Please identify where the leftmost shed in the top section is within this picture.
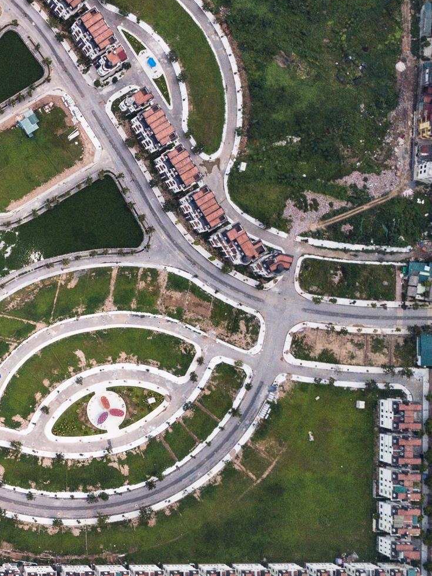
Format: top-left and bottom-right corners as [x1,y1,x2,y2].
[18,109,39,137]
